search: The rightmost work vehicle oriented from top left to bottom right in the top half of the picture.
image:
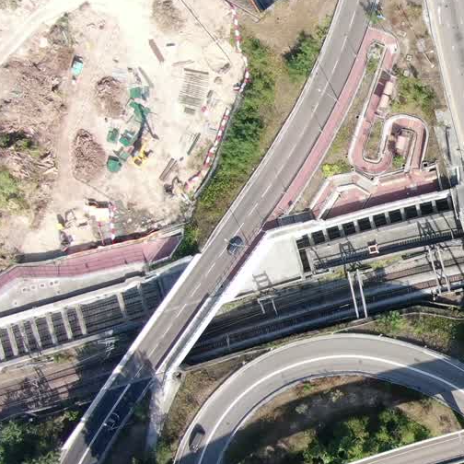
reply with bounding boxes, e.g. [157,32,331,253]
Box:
[153,170,184,196]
